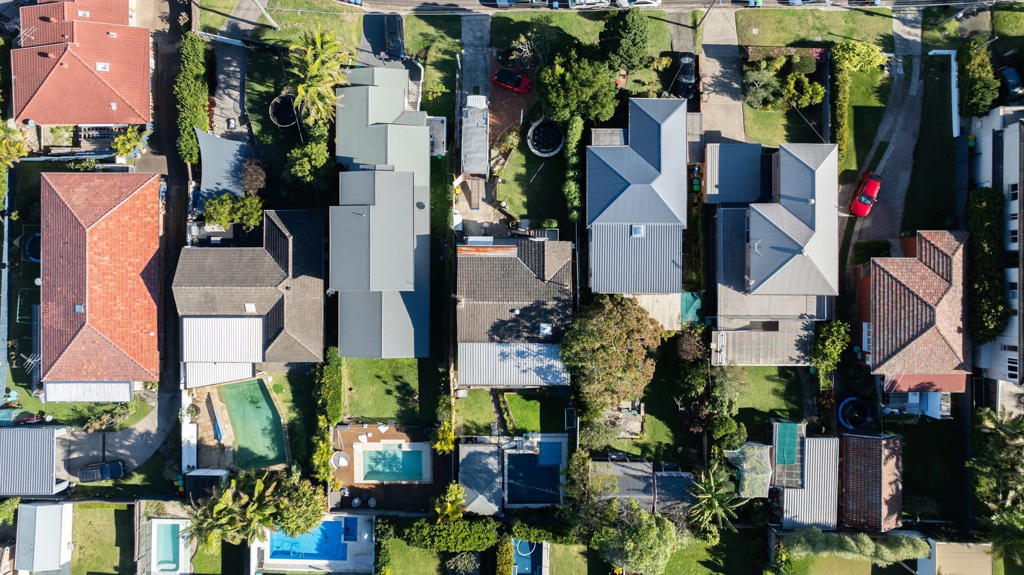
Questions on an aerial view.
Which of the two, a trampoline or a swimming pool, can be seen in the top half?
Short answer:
trampoline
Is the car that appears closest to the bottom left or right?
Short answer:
left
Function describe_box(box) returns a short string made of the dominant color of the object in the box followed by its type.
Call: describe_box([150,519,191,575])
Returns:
white swimming pool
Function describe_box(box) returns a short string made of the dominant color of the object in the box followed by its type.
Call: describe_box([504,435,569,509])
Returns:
black swimming pool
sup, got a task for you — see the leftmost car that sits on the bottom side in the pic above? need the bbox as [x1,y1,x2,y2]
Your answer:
[74,458,129,484]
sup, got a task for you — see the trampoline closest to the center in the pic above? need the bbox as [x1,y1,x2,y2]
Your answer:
[527,121,564,158]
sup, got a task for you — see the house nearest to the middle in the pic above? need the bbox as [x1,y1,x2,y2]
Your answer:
[446,228,572,387]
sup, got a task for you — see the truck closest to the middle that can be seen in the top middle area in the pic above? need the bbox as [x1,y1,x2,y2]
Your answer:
[461,94,491,177]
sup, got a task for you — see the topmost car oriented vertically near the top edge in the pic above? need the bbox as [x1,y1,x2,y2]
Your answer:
[382,12,405,63]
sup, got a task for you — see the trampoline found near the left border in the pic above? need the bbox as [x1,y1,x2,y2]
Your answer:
[14,232,40,263]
